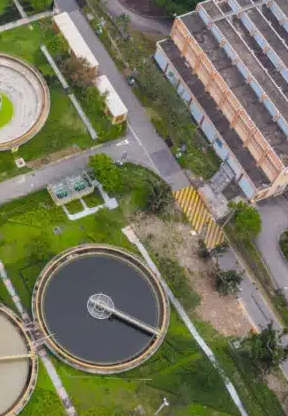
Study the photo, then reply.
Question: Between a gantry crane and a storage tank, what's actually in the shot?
storage tank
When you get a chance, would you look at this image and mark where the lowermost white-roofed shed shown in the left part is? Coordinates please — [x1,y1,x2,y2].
[91,75,129,124]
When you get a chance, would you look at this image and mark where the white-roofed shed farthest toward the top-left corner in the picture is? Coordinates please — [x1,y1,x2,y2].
[52,12,99,76]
